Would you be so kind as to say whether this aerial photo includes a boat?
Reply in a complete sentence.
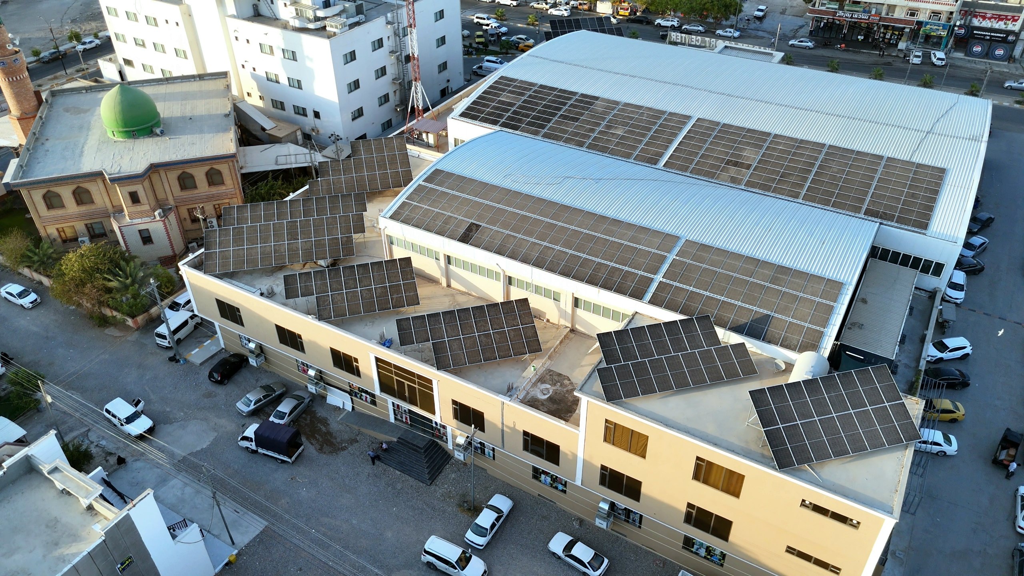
No, there appears to be no boat in this shot.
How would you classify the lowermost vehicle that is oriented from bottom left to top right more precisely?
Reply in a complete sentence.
From above, the lowermost vehicle that is oriented from bottom left to top right can be identified as an automobile.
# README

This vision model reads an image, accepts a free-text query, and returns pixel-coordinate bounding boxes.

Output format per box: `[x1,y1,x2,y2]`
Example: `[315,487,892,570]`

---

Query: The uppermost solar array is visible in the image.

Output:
[544,16,624,39]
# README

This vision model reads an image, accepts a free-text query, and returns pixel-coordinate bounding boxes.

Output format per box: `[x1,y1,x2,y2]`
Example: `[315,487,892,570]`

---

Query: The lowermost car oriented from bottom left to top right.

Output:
[462,494,516,547]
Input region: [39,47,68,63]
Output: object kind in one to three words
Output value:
car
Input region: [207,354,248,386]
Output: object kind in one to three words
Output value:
car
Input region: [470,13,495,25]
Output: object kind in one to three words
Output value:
vehicle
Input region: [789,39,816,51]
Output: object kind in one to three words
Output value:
vehicle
